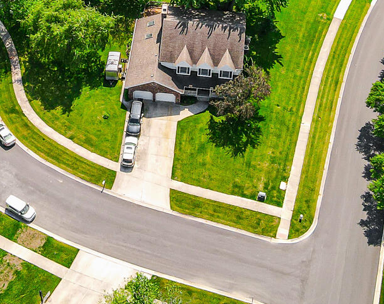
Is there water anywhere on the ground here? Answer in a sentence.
No, the picture contains no water.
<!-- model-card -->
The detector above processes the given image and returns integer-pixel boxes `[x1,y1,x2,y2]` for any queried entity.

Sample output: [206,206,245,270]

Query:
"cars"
[0,123,18,148]
[119,137,138,169]
[126,104,143,136]
[5,194,36,221]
